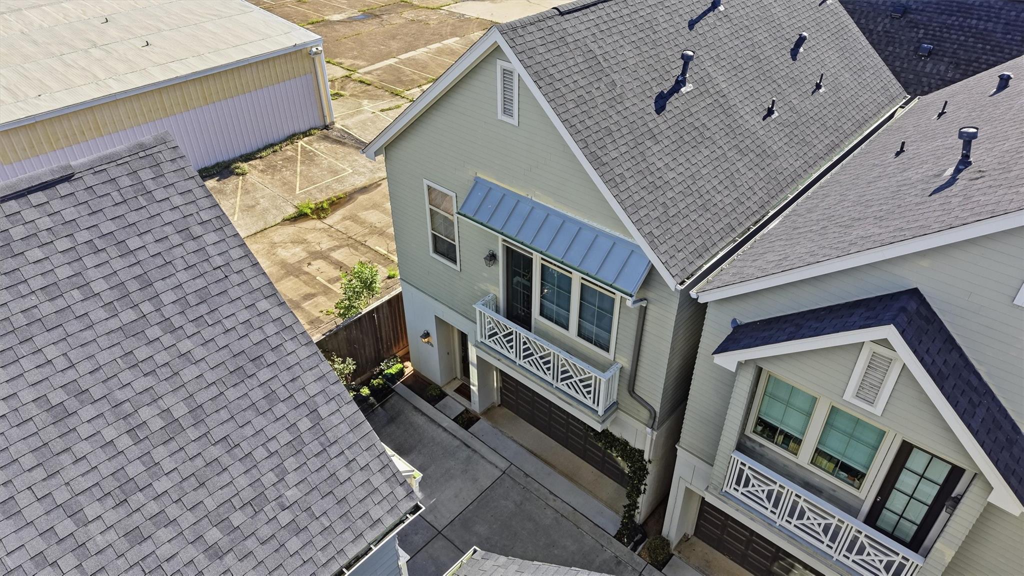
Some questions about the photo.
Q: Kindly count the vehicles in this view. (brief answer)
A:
0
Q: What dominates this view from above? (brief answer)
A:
buildings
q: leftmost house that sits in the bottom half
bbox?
[0,130,433,576]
